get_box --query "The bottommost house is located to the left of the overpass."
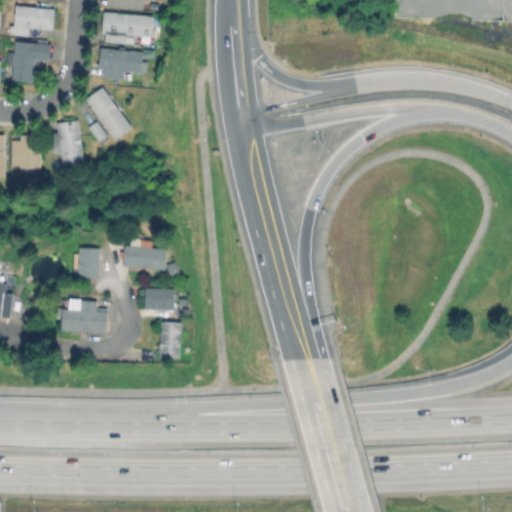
[160,322,182,360]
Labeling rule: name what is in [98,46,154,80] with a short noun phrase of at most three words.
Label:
house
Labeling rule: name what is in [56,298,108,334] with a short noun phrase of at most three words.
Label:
house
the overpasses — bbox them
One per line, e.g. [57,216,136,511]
[268,330,382,512]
